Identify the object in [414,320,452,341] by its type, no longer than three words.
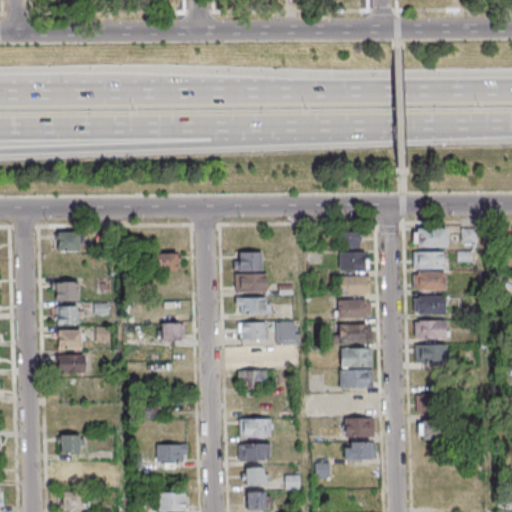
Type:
house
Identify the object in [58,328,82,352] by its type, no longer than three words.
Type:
house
